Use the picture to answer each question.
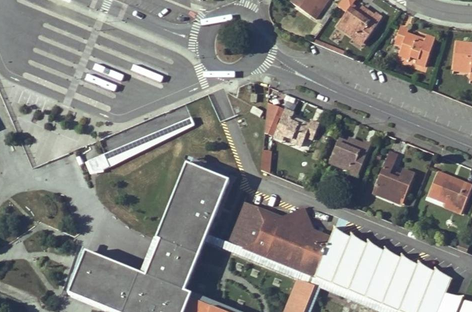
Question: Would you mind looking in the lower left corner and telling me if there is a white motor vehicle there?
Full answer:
No, there is no white motor vehicle in the lower left corner.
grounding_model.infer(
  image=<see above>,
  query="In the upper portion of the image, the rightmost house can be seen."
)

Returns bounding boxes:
[451,41,472,80]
